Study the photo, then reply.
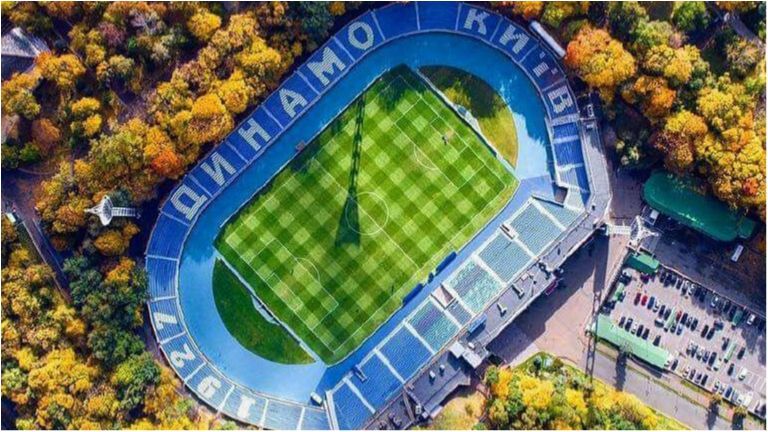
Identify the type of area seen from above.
sports ground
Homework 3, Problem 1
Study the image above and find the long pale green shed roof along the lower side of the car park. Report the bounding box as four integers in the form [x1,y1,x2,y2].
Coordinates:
[596,315,669,368]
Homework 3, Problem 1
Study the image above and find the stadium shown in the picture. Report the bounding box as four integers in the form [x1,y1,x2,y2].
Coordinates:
[144,0,611,432]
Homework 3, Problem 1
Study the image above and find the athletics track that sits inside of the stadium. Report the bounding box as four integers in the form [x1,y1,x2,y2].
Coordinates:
[178,31,563,408]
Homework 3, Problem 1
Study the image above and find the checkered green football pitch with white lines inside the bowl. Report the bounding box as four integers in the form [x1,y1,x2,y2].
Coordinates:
[213,63,519,366]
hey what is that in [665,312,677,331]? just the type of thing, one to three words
vehicle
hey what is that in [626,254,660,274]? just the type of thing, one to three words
house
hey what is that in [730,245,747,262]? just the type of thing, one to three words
vehicle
